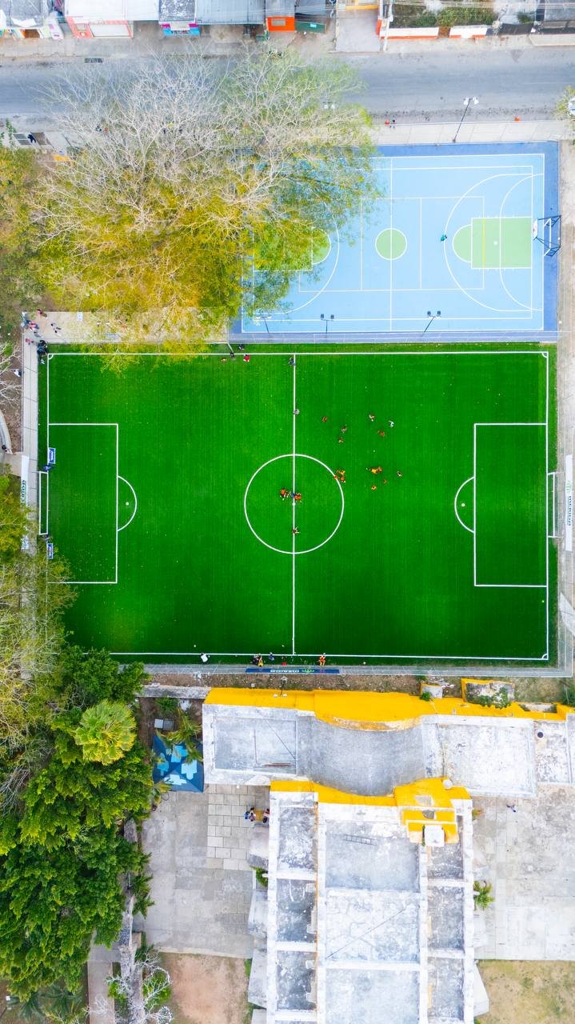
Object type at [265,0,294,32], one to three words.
house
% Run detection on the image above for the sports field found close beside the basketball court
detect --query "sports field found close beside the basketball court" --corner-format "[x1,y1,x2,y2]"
[38,344,557,663]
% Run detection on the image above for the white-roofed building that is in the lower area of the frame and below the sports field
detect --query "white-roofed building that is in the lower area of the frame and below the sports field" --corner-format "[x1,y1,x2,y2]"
[204,677,575,1024]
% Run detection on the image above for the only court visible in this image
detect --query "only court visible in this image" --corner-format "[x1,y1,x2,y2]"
[232,142,558,343]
